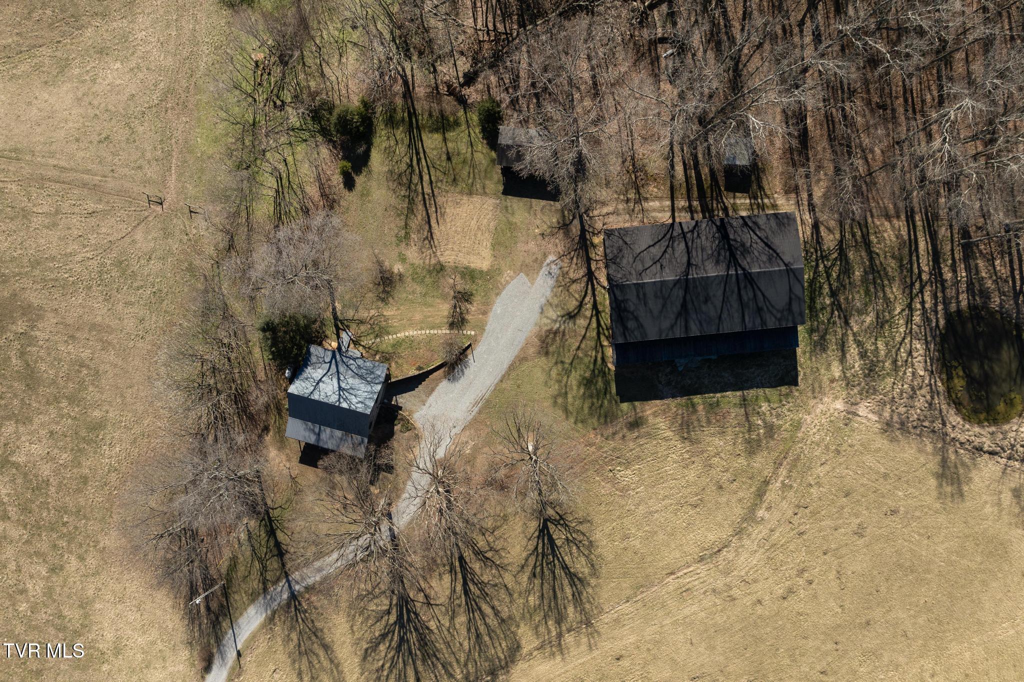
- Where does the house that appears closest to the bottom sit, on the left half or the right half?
left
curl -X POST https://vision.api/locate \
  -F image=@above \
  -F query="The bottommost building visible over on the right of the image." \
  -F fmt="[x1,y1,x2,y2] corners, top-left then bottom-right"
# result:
[599,211,809,365]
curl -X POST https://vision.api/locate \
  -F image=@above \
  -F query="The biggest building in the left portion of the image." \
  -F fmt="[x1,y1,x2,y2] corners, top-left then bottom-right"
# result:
[286,347,387,457]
